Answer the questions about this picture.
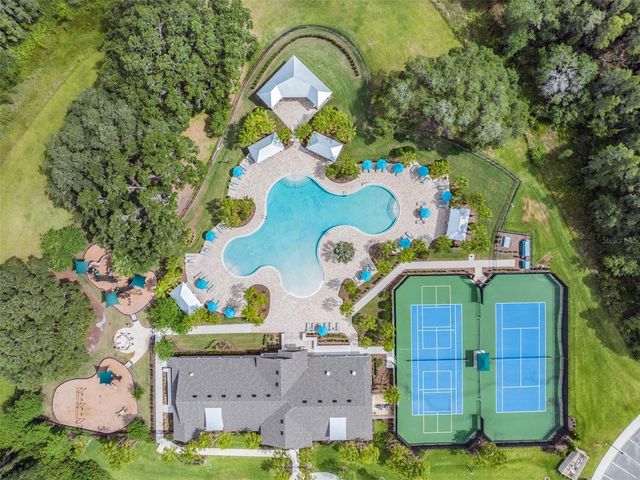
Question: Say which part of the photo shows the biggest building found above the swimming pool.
top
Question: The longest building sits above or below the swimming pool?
below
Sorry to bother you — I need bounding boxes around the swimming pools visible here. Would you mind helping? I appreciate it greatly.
[221,174,401,299]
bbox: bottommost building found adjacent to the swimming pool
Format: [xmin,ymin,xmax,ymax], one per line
[171,346,372,454]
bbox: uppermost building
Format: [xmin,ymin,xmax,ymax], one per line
[257,55,332,111]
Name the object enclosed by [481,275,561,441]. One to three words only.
tennis court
